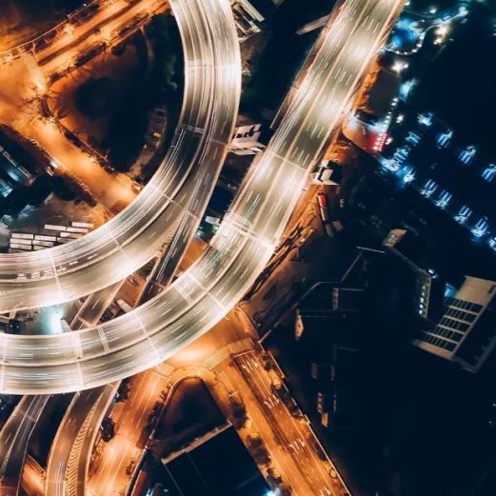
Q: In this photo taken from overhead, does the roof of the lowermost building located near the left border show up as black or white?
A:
black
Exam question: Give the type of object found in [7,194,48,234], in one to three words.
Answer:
building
